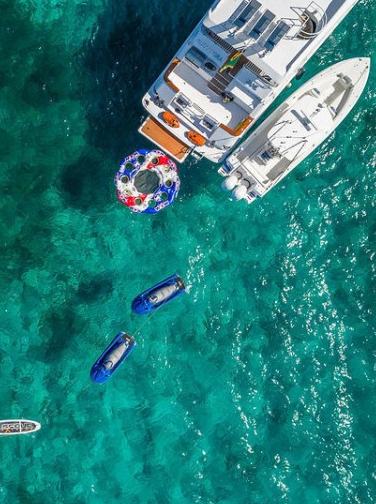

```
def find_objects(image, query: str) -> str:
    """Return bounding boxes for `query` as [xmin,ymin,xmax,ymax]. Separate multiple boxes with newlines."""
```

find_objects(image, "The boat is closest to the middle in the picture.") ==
[132,272,187,312]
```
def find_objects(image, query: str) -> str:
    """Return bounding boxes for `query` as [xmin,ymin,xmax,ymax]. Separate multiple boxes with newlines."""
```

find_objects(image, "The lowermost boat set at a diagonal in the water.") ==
[93,329,137,382]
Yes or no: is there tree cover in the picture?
No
